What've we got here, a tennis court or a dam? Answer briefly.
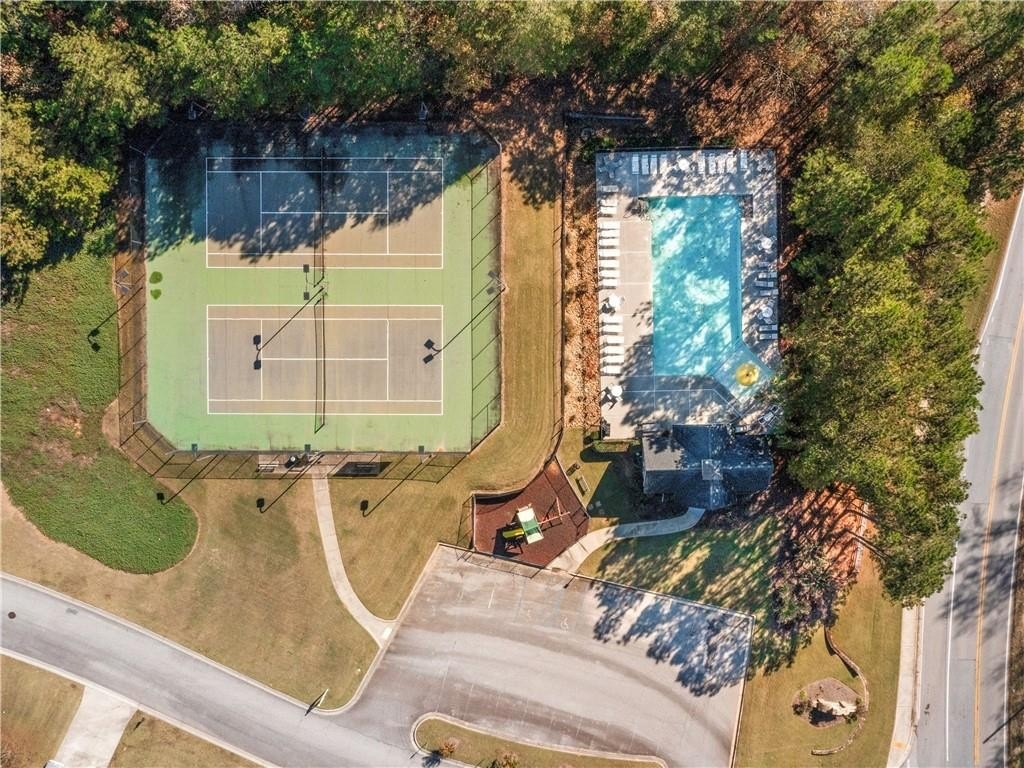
tennis court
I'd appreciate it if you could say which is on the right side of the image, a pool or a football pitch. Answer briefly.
pool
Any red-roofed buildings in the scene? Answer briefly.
No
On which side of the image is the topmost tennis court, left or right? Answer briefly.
left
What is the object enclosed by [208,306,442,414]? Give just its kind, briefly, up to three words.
tennis court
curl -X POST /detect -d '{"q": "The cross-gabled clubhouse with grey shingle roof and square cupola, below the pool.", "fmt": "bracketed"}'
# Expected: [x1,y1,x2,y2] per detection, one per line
[642,423,774,510]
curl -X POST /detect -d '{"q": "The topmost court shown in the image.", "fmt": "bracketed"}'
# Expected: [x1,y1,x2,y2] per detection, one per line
[207,158,442,266]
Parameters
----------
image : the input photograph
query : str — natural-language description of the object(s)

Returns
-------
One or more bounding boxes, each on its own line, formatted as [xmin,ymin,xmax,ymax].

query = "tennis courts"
[207,158,442,266]
[208,306,442,414]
